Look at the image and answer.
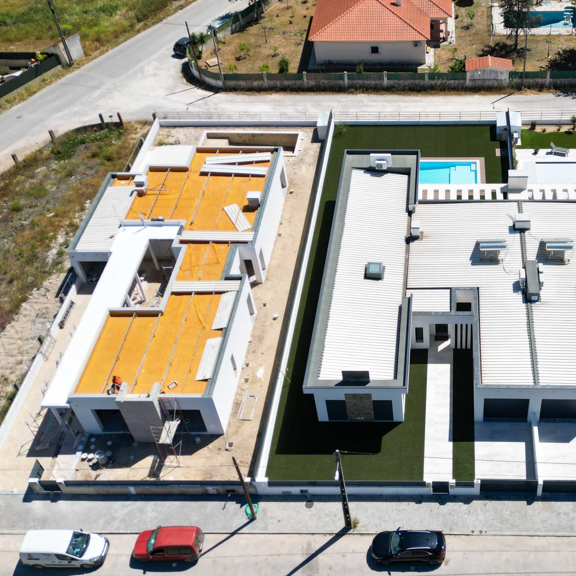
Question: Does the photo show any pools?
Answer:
Yes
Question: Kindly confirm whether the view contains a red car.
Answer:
Yes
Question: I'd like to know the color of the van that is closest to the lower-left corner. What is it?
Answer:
white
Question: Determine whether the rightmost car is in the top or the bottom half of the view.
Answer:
bottom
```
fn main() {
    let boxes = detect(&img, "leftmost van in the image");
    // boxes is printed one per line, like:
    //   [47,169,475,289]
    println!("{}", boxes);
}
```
[12,523,111,568]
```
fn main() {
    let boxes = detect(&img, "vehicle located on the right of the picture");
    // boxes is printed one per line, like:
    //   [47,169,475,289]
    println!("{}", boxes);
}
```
[369,527,447,572]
